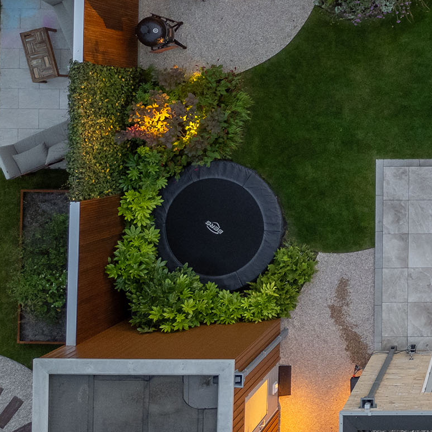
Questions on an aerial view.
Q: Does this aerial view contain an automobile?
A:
No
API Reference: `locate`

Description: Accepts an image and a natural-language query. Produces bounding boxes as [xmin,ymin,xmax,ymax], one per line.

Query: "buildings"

[342,346,432,432]
[30,318,290,432]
